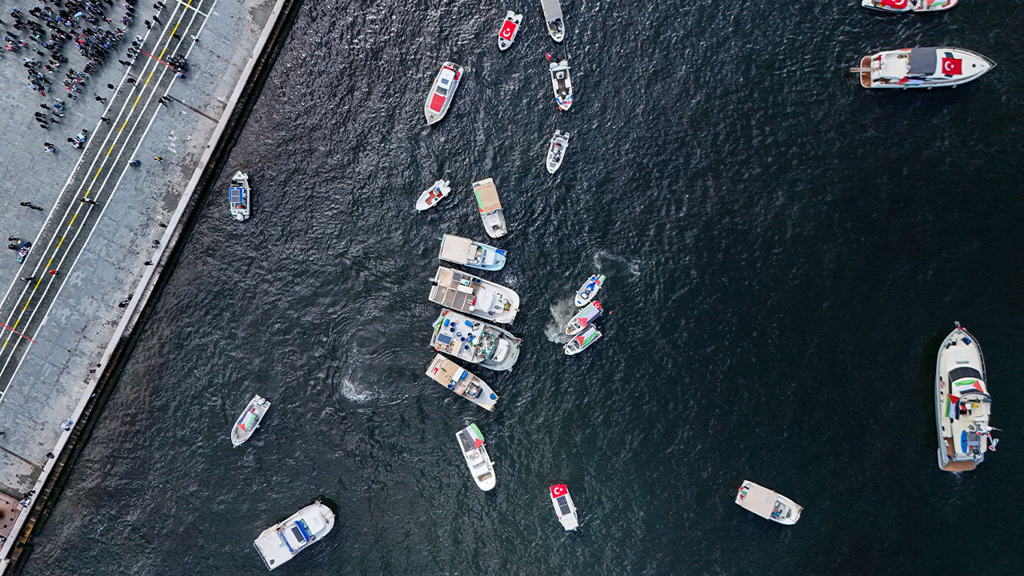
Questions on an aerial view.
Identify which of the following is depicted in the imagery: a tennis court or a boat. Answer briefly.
boat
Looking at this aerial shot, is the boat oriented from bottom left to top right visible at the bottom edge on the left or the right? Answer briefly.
left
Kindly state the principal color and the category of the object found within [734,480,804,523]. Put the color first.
white boat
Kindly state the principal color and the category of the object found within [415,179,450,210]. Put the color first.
white boat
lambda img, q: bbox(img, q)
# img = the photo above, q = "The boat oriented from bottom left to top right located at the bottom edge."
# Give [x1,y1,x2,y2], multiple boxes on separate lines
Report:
[253,501,336,569]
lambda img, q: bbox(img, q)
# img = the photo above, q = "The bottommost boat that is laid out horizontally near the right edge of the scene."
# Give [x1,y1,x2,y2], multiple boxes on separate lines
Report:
[845,47,1001,90]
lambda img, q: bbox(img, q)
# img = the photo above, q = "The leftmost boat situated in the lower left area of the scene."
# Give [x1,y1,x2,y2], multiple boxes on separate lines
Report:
[230,391,273,447]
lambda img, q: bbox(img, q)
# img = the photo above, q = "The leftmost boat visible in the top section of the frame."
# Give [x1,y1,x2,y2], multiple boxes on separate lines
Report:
[230,168,252,222]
